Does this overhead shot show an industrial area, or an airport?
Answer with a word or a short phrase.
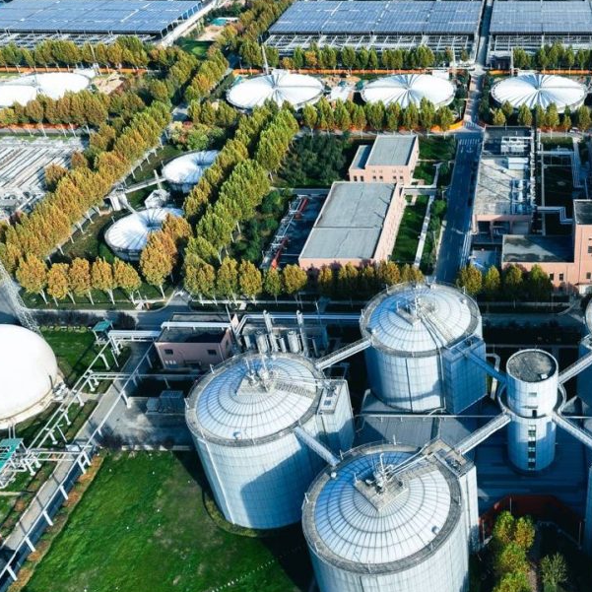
industrial area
